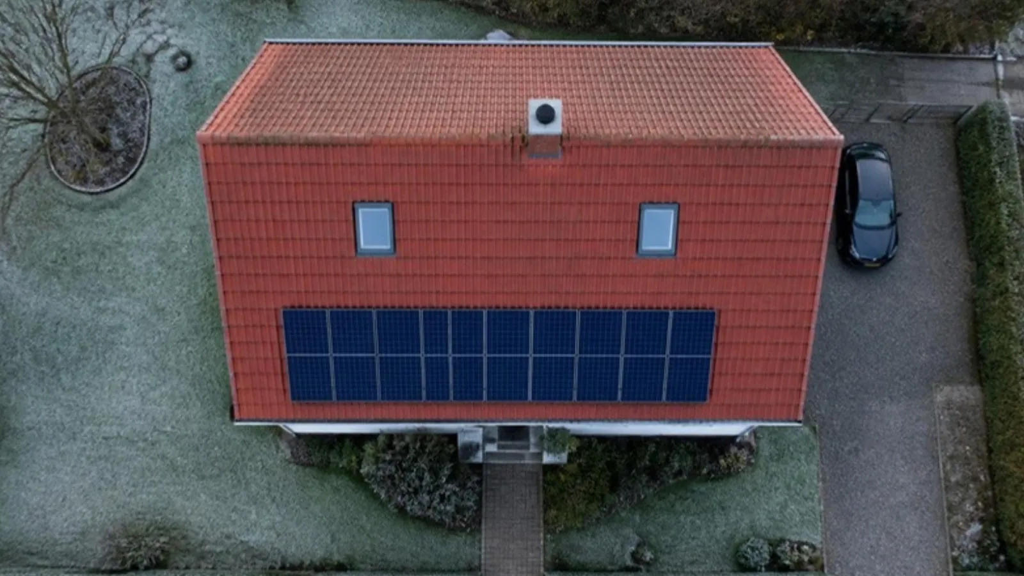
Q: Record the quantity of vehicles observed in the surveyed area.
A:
one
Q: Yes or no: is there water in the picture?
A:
No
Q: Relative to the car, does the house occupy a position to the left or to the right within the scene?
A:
on the left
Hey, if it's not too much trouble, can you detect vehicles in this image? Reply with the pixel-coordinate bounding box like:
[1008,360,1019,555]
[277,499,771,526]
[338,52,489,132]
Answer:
[835,140,905,265]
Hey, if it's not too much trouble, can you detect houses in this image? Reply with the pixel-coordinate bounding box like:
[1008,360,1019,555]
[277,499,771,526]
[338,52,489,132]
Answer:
[198,38,843,441]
